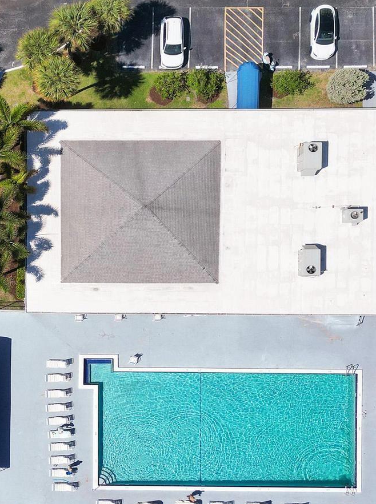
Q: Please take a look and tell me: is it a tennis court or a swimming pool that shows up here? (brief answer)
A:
swimming pool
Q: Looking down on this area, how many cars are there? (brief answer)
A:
2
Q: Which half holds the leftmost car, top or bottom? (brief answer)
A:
top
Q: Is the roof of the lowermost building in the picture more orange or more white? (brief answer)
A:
white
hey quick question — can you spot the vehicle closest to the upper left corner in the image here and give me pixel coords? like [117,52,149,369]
[159,15,187,69]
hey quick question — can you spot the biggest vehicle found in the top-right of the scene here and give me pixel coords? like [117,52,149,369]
[310,5,339,61]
